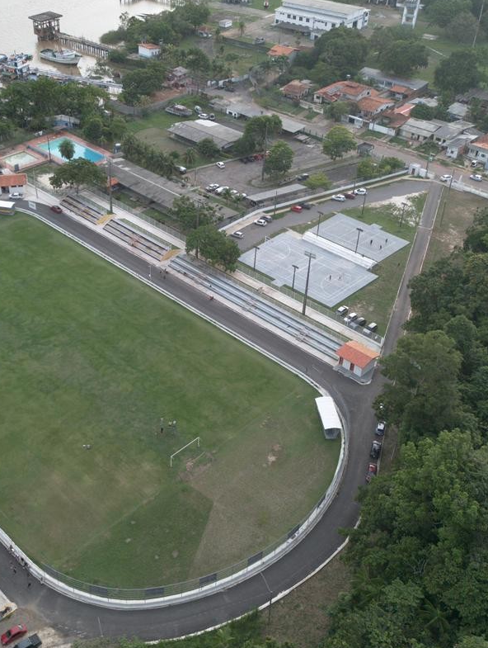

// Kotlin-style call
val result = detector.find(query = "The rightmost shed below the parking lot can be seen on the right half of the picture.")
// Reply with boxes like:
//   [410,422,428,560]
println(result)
[335,342,380,377]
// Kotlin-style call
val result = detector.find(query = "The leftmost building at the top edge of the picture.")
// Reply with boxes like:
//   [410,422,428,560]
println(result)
[26,11,65,43]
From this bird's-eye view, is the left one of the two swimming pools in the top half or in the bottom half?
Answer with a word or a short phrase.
top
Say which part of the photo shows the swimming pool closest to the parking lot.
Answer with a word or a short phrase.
top left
